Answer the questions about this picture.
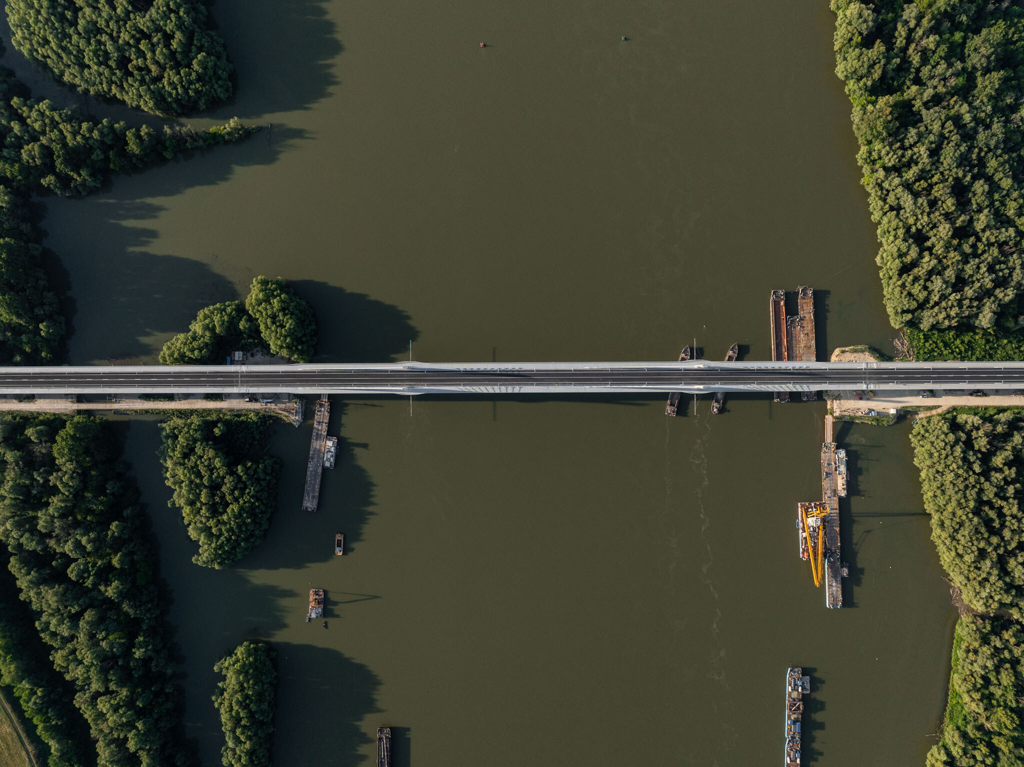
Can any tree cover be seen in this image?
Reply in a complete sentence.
Yes, the picture does contain tree cover.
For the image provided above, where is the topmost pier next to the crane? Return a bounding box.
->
[820,443,841,554]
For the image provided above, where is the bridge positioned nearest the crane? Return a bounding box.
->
[0,360,1024,396]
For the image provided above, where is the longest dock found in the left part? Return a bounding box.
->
[303,399,330,512]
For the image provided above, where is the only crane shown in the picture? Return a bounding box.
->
[802,506,829,587]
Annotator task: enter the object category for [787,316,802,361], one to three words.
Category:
ship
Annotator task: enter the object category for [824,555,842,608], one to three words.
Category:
pier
